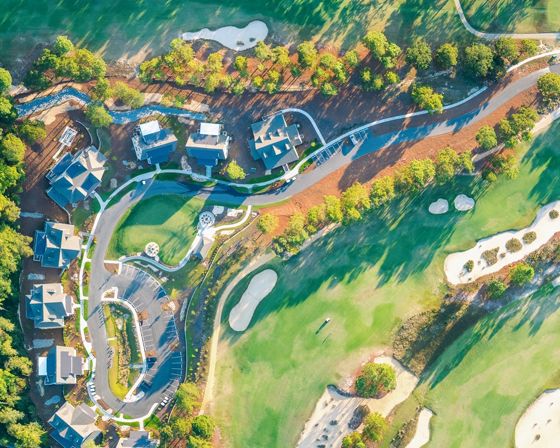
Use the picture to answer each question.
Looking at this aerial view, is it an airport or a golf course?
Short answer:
golf course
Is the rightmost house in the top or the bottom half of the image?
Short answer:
top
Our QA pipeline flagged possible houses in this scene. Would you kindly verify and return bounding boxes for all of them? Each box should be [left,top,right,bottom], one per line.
[40,345,83,385]
[49,401,104,448]
[245,108,306,170]
[119,428,159,448]
[134,120,175,163]
[45,147,109,206]
[33,223,83,269]
[188,122,229,166]
[24,284,74,329]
